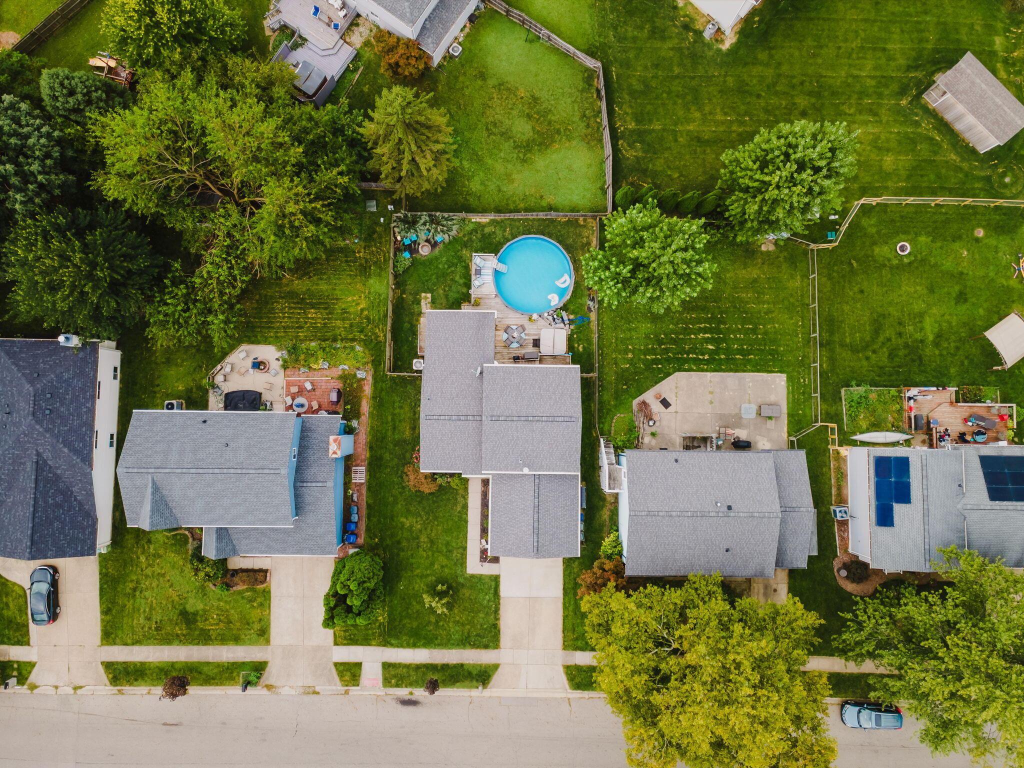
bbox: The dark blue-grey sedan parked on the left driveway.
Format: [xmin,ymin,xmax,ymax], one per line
[28,566,62,627]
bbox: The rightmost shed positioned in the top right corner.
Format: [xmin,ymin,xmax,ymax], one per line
[923,51,1024,154]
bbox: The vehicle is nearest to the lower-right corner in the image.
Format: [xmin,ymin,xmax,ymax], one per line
[840,695,904,728]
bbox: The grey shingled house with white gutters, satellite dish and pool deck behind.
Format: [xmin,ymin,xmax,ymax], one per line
[420,310,582,559]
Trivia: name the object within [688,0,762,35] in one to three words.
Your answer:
house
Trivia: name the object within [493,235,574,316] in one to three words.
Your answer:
swimming pool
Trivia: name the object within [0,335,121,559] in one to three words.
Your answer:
house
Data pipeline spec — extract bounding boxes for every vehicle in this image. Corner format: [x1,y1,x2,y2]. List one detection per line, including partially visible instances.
[840,695,904,728]
[28,566,62,627]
